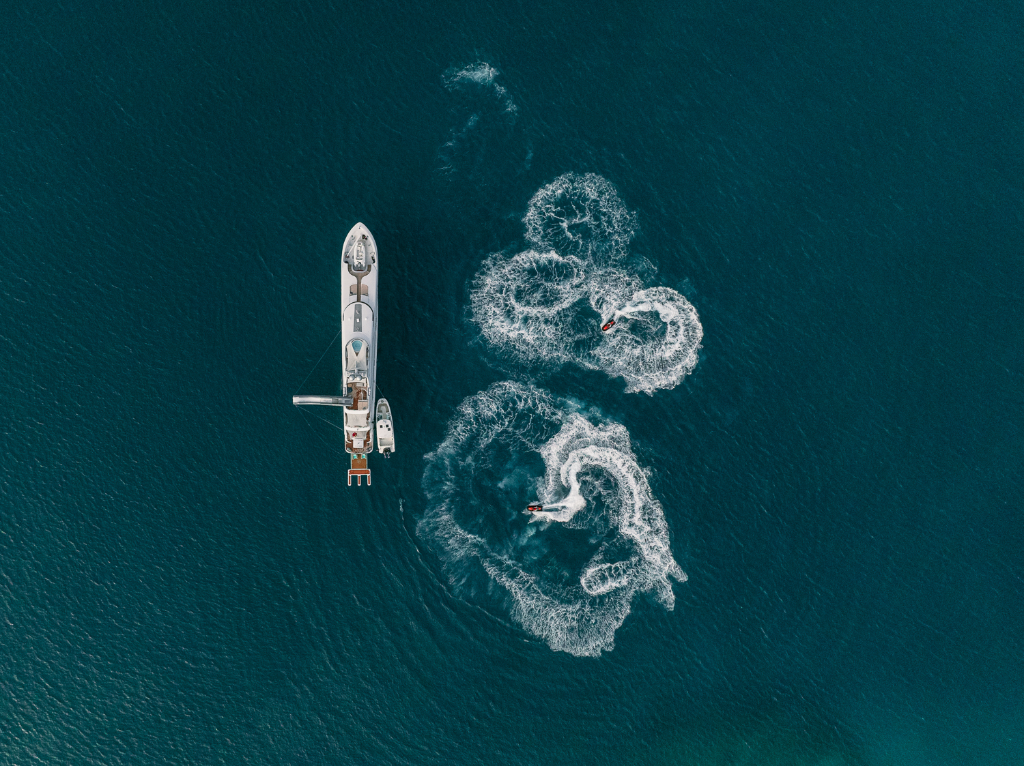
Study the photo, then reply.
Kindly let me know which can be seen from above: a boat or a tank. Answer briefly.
boat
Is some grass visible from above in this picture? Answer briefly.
No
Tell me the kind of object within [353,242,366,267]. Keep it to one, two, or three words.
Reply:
boat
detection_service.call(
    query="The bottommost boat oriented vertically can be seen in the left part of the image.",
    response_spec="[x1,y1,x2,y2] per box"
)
[376,398,395,458]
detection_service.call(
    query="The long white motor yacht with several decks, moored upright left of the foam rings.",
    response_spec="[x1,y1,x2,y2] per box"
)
[342,222,380,453]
